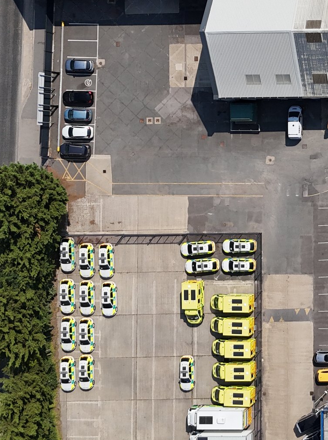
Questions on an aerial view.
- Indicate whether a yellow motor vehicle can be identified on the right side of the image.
Yes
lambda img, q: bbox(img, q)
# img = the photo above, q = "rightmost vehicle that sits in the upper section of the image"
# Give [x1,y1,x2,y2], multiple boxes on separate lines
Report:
[287,107,304,139]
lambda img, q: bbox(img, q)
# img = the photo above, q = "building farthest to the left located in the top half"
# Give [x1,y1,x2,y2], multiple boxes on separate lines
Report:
[204,0,304,101]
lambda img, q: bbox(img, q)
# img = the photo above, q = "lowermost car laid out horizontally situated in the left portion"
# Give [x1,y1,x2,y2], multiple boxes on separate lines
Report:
[59,143,91,159]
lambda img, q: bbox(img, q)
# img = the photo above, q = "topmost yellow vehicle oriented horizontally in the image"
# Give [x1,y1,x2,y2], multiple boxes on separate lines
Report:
[214,295,256,316]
